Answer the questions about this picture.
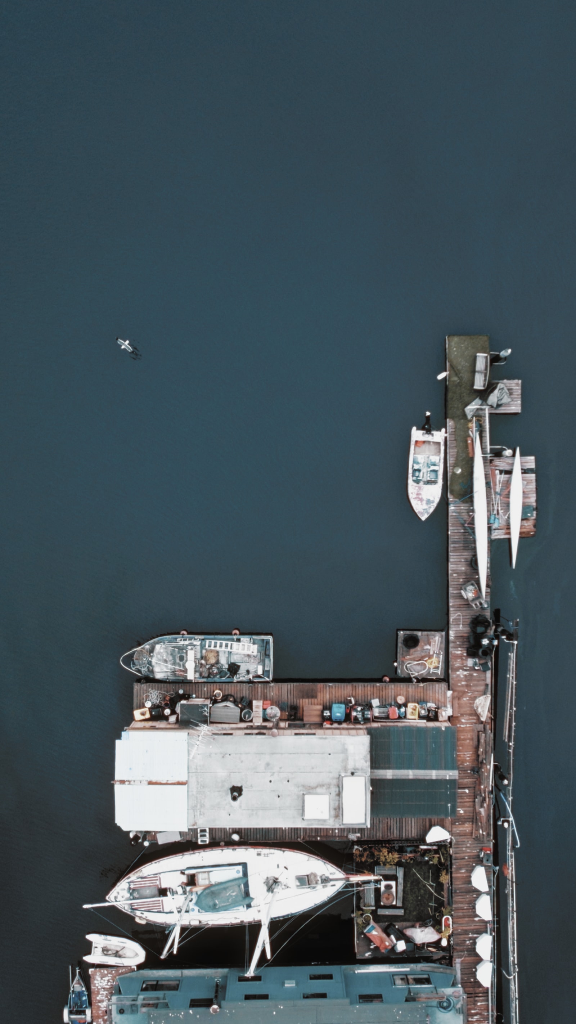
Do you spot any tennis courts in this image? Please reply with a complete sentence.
No, the scene contains no tennis court.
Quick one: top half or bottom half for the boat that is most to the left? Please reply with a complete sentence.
The bottom half of the photo is where the boat that is most to the left is.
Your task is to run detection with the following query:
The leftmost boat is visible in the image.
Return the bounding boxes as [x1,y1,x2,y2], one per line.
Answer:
[63,965,91,1024]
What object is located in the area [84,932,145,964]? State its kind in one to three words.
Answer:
boat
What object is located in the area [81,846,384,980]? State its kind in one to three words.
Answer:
boat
